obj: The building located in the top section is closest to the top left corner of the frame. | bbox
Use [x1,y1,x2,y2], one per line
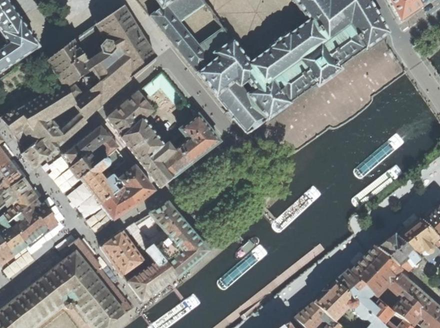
[0,0,42,78]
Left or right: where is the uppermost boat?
right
